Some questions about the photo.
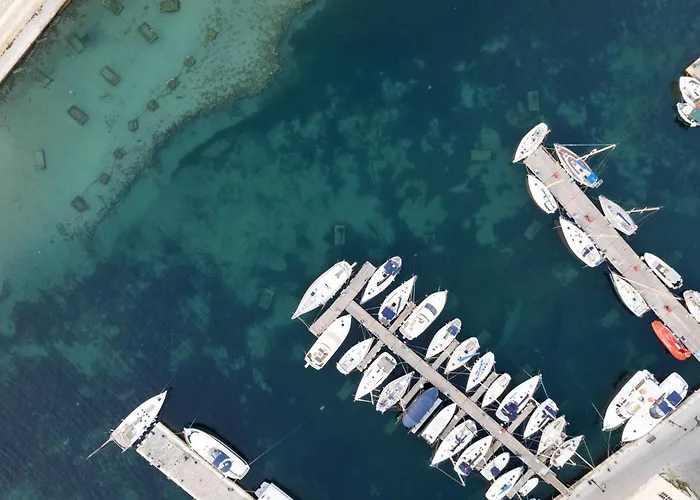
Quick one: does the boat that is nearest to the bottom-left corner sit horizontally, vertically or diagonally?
diagonally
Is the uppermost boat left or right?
right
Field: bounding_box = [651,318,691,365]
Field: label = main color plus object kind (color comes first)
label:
red boat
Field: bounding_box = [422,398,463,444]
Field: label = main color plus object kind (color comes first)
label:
white boat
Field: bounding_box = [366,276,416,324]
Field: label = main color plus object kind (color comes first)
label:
white boat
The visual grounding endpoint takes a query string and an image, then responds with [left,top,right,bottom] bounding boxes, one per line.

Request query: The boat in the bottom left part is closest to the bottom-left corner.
[91,385,170,459]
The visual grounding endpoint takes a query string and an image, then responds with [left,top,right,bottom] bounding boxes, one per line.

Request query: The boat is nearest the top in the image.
[675,74,700,109]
